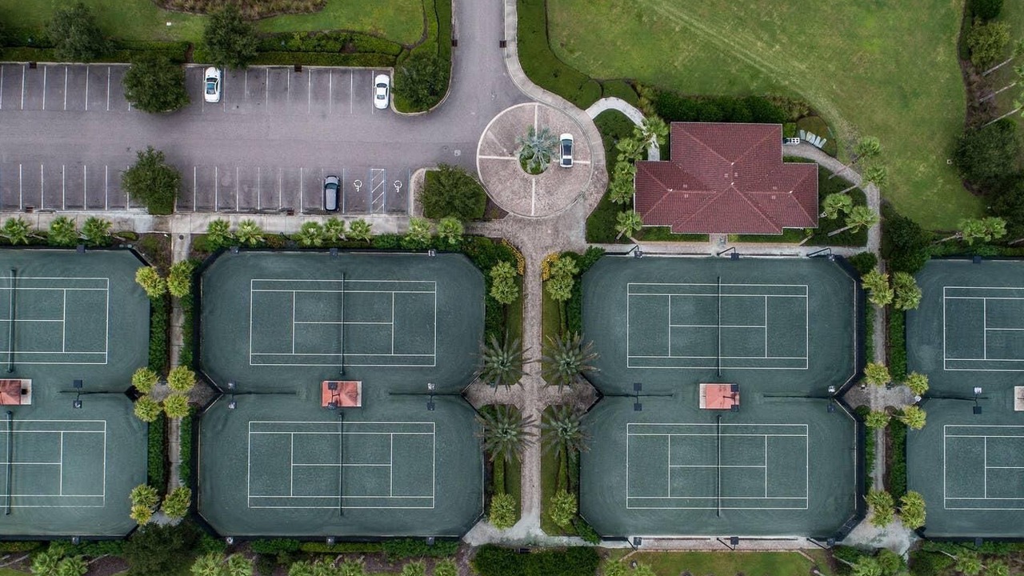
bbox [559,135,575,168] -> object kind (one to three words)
car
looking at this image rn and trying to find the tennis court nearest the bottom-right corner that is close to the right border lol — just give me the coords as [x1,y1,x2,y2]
[908,397,1024,536]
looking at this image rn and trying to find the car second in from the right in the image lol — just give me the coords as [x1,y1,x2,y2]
[373,76,390,109]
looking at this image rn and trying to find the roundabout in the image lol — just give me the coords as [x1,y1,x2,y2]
[478,104,593,218]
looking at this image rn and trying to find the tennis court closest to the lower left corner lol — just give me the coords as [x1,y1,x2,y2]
[0,392,147,536]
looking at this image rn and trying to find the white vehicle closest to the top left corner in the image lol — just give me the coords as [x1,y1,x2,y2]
[203,68,222,103]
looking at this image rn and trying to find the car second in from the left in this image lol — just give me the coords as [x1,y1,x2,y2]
[322,177,340,211]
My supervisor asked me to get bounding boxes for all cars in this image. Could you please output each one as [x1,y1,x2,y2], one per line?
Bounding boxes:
[322,177,340,211]
[373,76,390,109]
[559,135,575,168]
[203,68,222,103]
